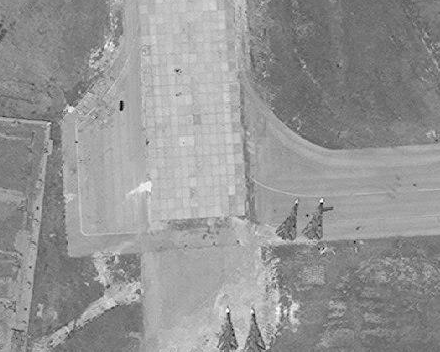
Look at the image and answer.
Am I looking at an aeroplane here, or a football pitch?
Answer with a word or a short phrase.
aeroplane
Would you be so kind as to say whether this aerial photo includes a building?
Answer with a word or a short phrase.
No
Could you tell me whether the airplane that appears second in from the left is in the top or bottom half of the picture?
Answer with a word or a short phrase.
bottom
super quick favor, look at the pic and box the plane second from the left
[245,309,265,351]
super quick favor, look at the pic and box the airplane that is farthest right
[303,200,322,242]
